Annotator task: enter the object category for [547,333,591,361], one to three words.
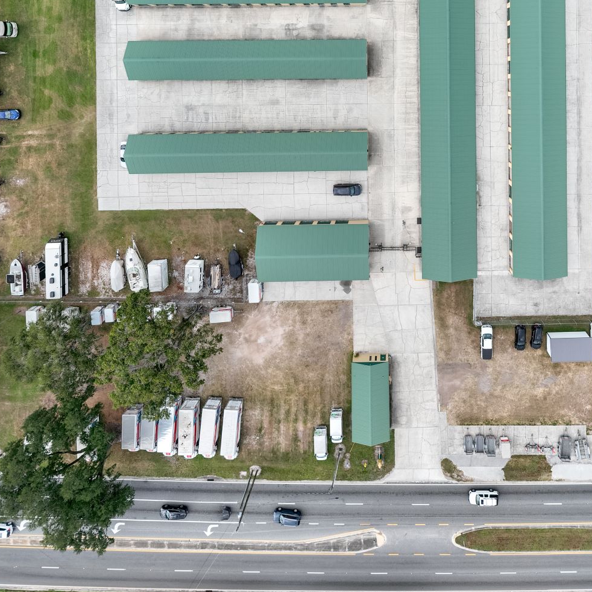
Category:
shed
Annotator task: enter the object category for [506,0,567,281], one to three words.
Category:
building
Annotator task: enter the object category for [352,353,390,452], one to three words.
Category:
building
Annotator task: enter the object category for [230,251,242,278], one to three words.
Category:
boat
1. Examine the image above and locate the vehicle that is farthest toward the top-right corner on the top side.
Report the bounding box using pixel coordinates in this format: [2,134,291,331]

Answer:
[333,184,361,198]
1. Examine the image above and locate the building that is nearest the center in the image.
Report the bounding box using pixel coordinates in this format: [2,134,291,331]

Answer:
[254,219,370,280]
